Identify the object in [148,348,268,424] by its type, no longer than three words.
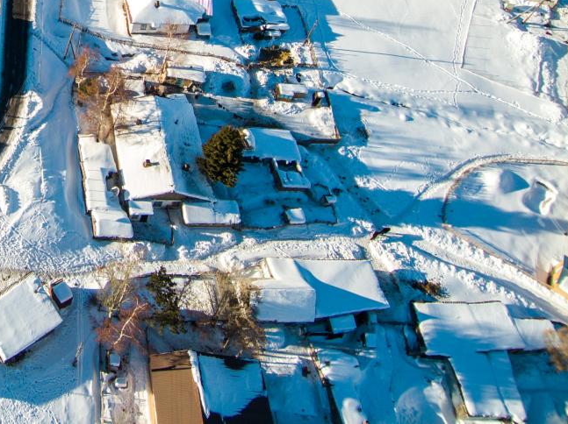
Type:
house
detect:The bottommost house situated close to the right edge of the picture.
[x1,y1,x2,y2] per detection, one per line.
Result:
[399,298,560,424]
